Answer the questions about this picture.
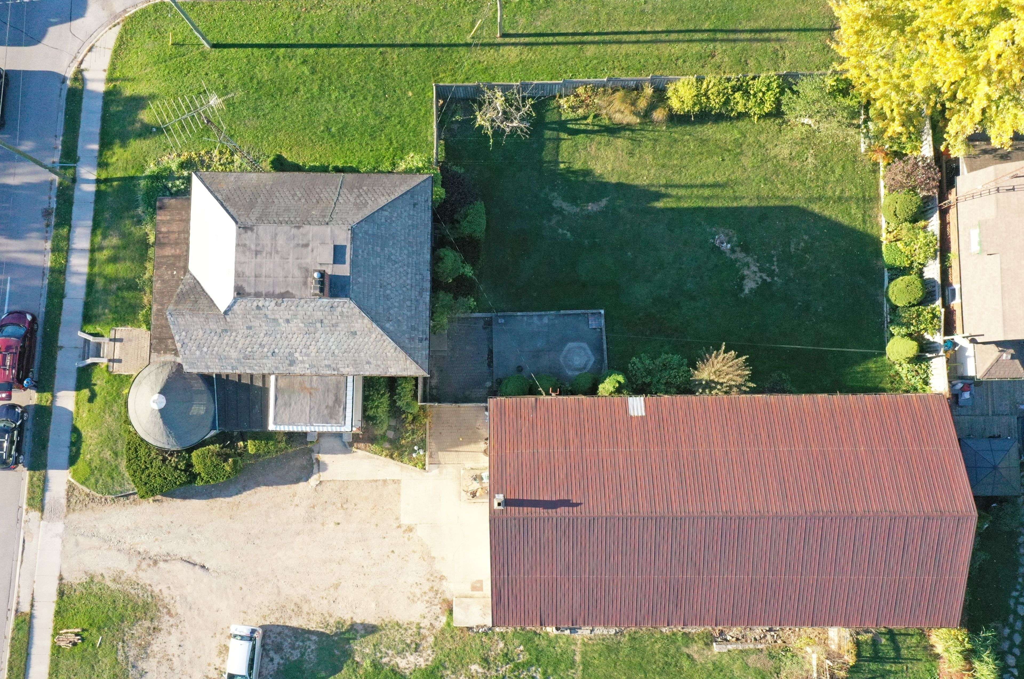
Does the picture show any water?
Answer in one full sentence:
No, no water is visible.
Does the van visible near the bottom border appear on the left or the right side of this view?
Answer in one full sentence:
It is on the left.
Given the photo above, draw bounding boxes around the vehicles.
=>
[216,621,263,679]
[0,403,30,474]
[0,66,12,132]
[0,311,40,399]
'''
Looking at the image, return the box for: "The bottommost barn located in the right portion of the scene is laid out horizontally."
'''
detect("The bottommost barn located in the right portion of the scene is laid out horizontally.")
[488,385,978,629]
